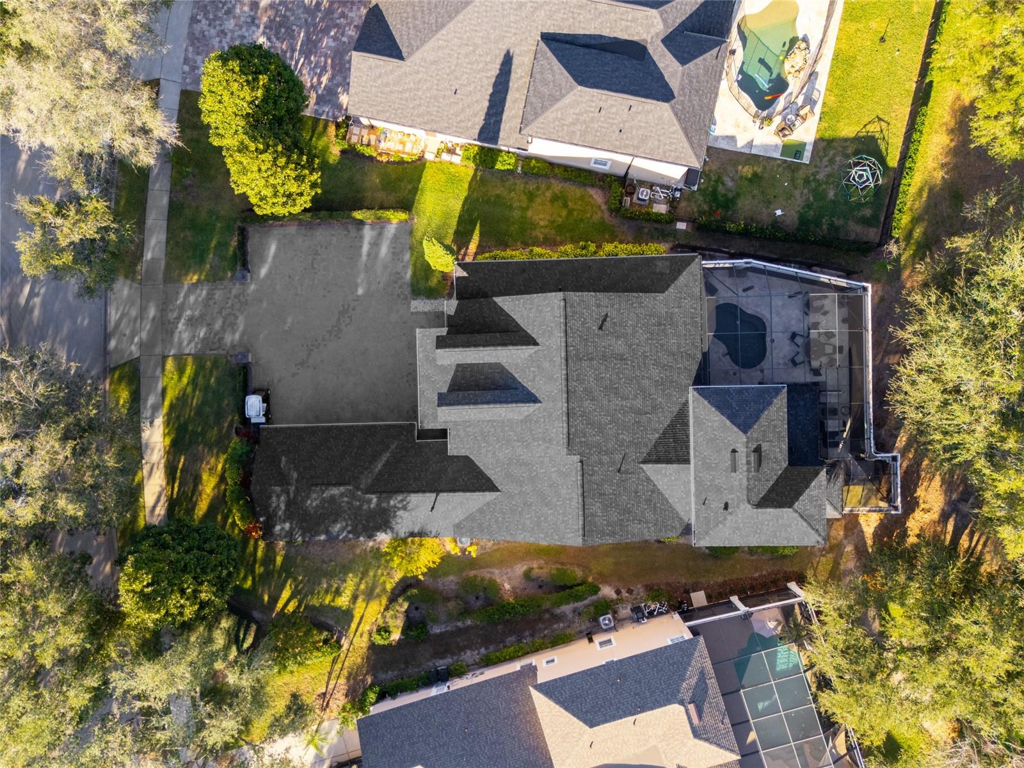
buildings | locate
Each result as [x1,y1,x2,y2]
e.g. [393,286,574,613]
[345,0,726,217]
[254,255,847,546]
[357,614,734,768]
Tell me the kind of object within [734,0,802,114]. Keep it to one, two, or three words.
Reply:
swimming pool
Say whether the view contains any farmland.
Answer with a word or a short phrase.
No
